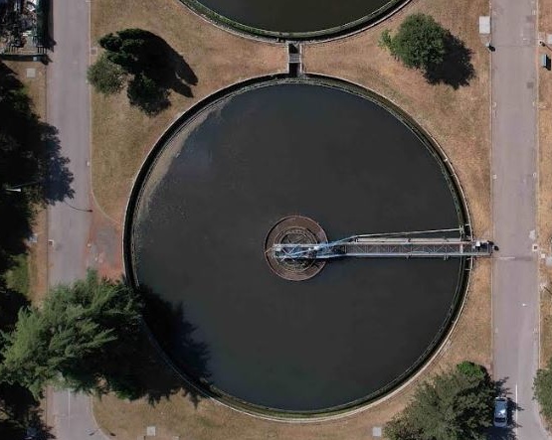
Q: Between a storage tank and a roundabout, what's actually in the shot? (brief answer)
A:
storage tank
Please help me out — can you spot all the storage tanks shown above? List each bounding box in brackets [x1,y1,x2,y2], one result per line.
[122,70,473,421]
[182,0,411,43]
